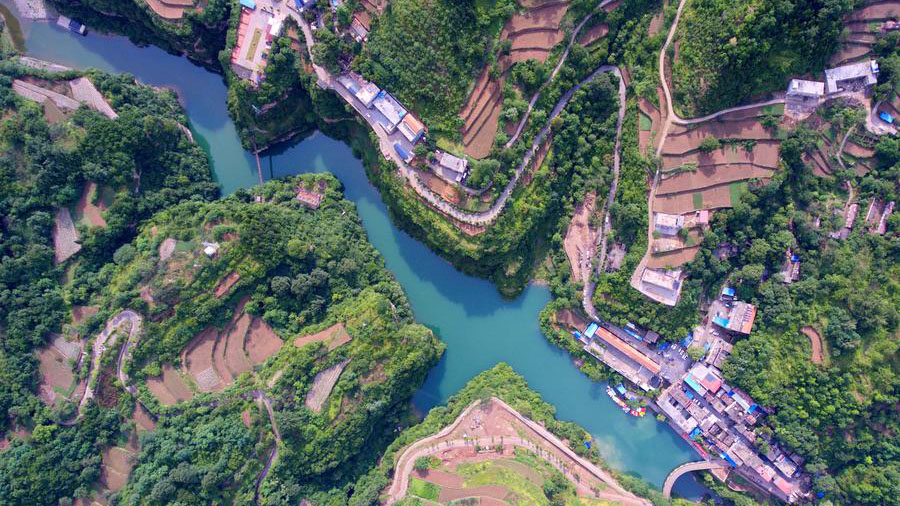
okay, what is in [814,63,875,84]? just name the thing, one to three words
house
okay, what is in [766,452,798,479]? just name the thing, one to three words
house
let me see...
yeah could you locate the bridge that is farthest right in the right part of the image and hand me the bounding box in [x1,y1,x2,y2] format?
[658,457,723,506]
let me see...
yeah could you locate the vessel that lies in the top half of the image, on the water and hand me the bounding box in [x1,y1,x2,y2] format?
[57,16,88,35]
